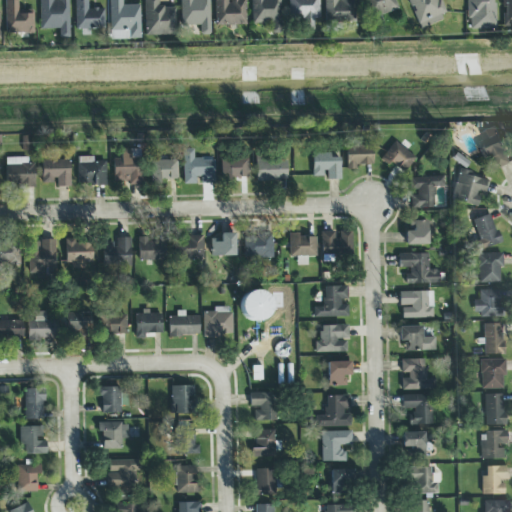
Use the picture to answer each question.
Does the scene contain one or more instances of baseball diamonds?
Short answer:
No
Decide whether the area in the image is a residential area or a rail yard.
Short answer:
residential area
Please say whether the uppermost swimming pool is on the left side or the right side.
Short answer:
right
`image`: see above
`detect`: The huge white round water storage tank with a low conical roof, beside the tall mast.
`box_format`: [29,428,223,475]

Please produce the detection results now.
[242,288,276,321]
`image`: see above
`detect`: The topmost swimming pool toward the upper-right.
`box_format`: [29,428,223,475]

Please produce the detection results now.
[453,121,480,155]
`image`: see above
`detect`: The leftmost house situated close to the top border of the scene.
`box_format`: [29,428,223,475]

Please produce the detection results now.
[6,0,36,38]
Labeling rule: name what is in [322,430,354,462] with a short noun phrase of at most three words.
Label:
house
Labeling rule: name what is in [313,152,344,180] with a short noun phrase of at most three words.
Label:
house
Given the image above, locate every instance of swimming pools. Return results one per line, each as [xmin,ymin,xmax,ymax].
[434,188,446,208]
[453,121,480,155]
